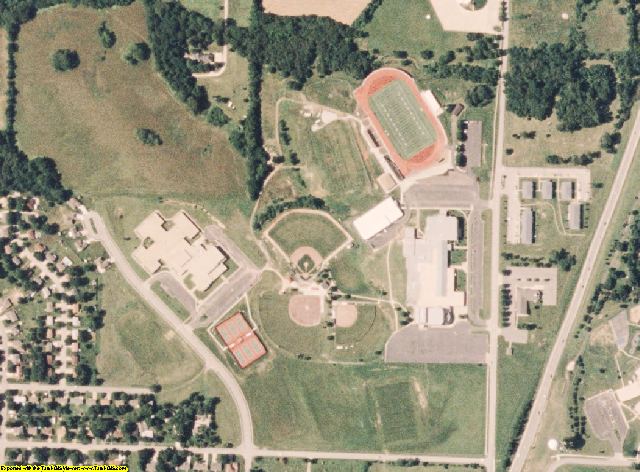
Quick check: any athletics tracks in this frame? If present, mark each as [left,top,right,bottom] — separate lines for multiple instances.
[346,65,448,183]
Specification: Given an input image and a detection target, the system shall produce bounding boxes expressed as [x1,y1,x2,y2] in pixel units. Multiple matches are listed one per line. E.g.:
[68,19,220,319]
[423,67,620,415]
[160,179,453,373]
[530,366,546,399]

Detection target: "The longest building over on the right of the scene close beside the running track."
[404,209,466,324]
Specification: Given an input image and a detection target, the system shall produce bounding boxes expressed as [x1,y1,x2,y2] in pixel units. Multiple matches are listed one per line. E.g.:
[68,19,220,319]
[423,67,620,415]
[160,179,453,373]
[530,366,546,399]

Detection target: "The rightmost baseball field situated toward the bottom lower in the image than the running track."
[335,303,376,343]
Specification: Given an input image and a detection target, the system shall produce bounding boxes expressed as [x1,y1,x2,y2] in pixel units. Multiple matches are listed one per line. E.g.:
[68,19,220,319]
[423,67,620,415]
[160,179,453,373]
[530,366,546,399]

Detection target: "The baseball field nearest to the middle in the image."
[264,209,354,280]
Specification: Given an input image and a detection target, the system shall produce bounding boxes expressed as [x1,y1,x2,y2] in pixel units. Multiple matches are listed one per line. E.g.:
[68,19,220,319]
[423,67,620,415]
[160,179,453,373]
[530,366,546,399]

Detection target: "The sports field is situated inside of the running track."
[366,78,439,162]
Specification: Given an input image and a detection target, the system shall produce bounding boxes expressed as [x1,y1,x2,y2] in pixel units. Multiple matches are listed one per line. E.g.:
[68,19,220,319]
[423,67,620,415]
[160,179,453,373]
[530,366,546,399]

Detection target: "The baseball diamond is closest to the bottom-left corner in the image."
[256,294,330,358]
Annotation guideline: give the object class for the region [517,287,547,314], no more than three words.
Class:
building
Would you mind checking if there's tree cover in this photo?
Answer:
Yes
